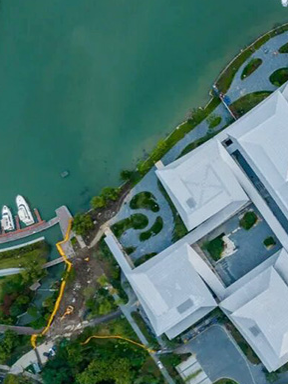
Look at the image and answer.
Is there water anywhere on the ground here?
Yes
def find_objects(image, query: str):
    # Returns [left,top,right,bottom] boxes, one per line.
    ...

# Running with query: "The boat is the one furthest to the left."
[0,206,13,231]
